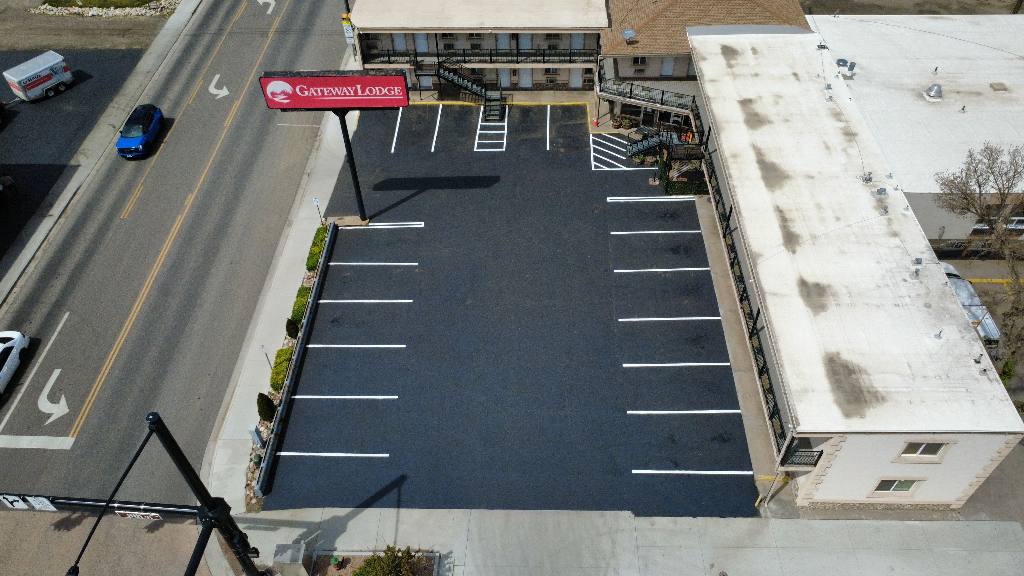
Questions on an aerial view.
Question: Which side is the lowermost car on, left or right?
left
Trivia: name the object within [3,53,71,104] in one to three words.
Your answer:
trailer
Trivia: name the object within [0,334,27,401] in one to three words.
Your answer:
car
